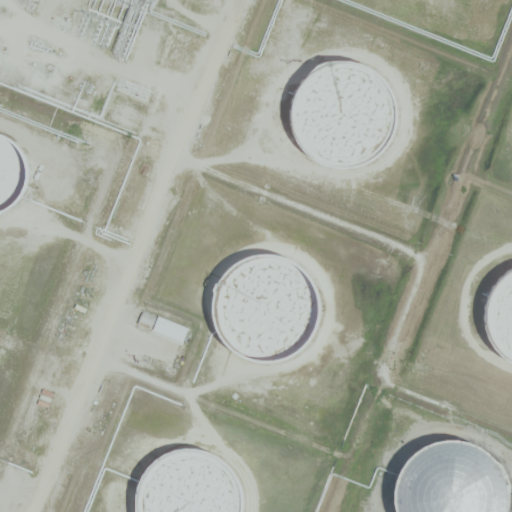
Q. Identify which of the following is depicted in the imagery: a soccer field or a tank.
tank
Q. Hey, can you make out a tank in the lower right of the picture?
Yes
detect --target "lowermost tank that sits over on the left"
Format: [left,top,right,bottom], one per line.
[136,447,244,512]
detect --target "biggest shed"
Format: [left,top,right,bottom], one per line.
[154,316,188,343]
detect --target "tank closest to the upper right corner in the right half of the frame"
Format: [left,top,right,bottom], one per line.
[292,61,398,168]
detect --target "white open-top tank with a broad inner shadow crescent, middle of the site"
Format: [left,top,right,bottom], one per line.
[211,254,320,362]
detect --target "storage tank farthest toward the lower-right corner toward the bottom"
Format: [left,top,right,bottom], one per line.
[394,439,510,512]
